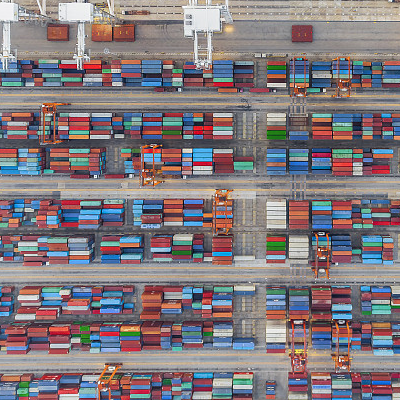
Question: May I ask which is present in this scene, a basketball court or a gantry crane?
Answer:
gantry crane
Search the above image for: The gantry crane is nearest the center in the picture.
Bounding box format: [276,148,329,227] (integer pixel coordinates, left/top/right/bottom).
[212,189,234,237]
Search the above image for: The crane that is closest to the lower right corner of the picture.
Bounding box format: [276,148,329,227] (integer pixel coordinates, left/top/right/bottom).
[330,320,352,373]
